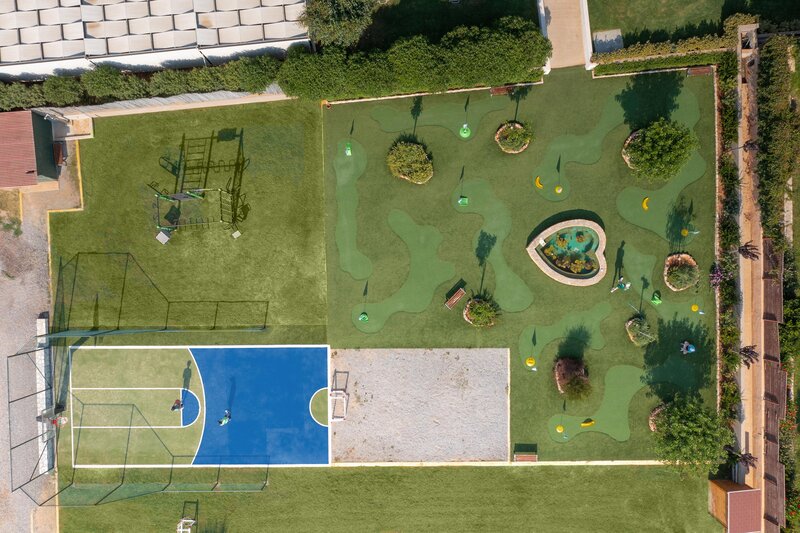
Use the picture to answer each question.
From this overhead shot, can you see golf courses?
Yes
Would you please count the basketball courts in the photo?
1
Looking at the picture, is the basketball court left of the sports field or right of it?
left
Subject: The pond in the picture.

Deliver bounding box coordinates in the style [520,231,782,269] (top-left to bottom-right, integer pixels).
[526,218,608,286]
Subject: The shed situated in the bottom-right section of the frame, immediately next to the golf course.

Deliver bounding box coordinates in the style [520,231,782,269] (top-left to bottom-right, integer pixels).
[709,480,762,532]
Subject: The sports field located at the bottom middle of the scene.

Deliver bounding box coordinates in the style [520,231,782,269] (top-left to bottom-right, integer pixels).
[331,349,509,462]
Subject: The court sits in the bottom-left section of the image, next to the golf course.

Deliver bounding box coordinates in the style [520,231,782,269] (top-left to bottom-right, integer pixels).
[71,346,330,467]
